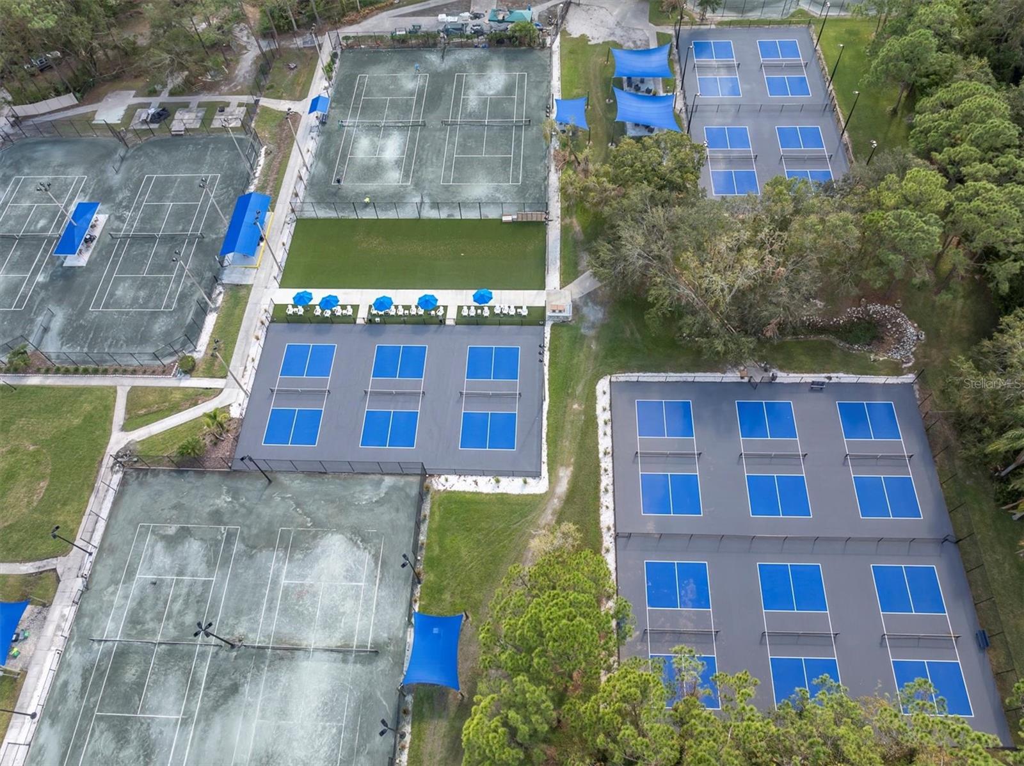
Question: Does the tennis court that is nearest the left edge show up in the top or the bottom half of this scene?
top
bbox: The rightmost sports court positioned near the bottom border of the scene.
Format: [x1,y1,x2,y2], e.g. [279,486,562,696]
[841,541,1014,748]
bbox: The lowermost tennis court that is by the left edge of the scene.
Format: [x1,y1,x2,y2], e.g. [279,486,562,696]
[24,469,273,766]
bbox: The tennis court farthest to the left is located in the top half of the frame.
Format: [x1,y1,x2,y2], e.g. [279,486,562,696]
[0,136,128,366]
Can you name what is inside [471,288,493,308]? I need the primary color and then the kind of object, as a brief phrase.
blue umbrella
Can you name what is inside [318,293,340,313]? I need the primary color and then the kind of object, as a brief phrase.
blue umbrella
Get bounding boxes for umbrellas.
[318,293,340,313]
[293,289,314,309]
[372,295,394,315]
[471,288,493,308]
[417,293,439,314]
